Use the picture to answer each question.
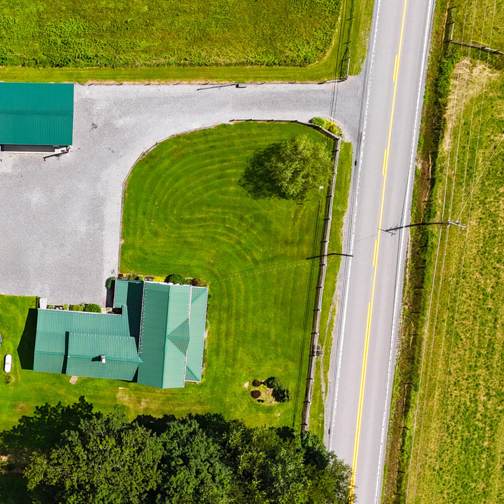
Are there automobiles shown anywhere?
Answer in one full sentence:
No, no automobile is visible in the view.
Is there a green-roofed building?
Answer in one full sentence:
Yes, the picture does show a green-roofed building.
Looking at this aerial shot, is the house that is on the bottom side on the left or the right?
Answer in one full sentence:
The house that is on the bottom side is on the left side of the image.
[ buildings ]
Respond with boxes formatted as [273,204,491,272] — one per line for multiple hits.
[33,278,209,389]
[0,82,74,160]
